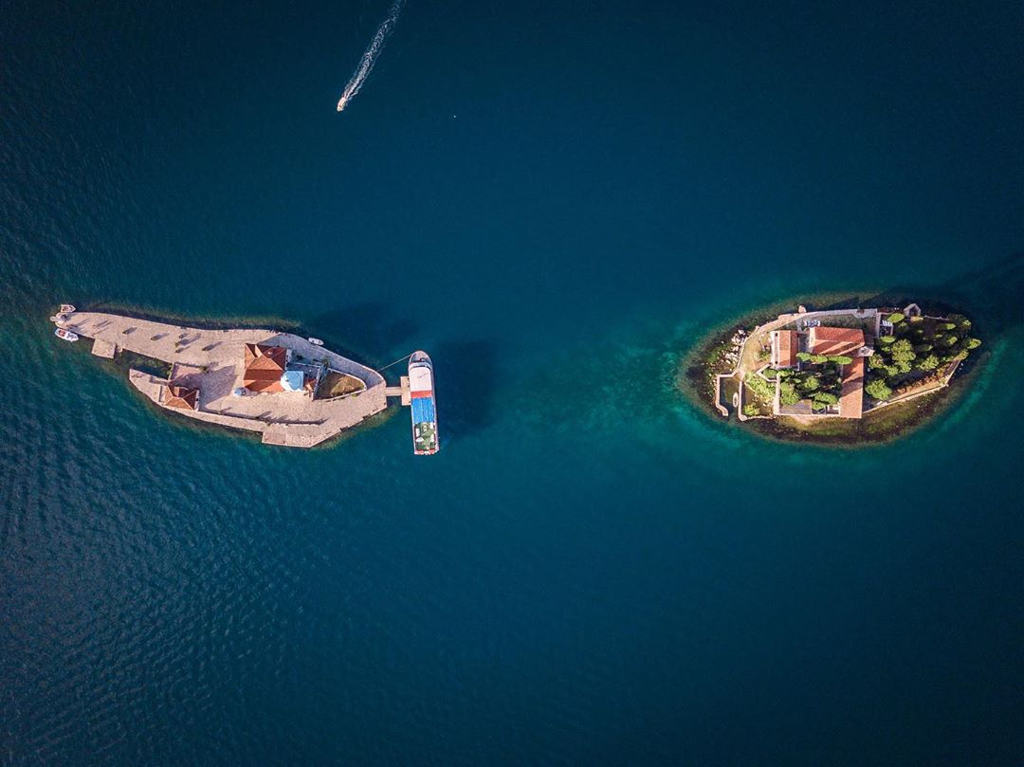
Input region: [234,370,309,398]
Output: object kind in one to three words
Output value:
building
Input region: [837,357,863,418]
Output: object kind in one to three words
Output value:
house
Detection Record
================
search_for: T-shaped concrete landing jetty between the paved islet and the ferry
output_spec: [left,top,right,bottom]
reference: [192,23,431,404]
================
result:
[387,376,411,405]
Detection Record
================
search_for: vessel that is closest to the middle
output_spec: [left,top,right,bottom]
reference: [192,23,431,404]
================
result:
[409,351,439,456]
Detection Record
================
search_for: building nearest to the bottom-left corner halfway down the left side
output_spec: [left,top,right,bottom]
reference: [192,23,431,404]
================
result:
[164,384,200,410]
